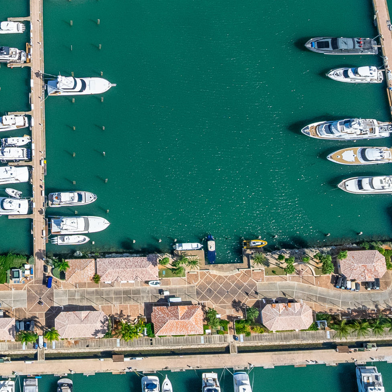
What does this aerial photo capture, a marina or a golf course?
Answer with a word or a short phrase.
marina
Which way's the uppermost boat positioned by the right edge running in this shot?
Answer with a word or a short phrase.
from side to side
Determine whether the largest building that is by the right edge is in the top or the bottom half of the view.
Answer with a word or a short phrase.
bottom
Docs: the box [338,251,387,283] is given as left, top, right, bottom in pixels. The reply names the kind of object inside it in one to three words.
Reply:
building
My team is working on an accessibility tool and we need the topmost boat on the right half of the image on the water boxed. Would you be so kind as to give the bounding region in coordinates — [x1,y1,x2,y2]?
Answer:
[305,37,379,57]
